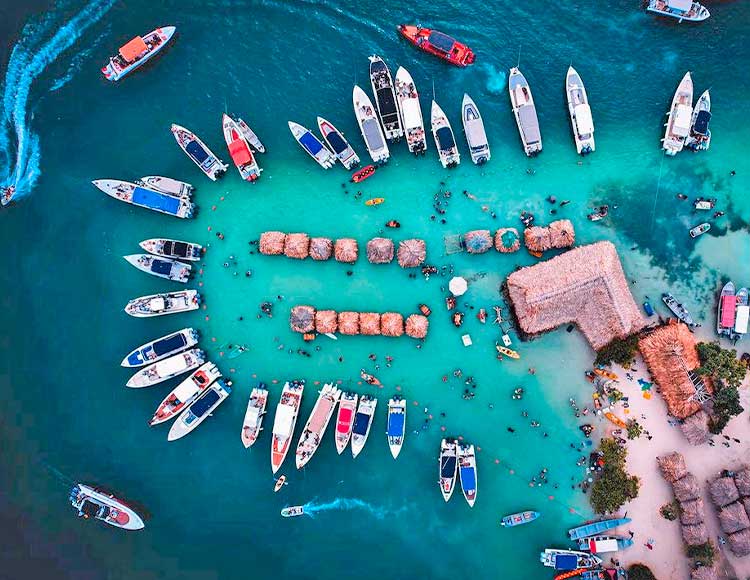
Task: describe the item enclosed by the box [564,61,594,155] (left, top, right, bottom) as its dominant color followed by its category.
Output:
white boat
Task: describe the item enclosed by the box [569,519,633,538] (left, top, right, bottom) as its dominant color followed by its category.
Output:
blue boat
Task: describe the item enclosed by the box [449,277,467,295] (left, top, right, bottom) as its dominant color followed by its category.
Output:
white umbrella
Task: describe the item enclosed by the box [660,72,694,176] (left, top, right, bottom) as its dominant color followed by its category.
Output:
white boat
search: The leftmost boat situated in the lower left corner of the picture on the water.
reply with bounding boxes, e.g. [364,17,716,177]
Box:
[74,488,146,527]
